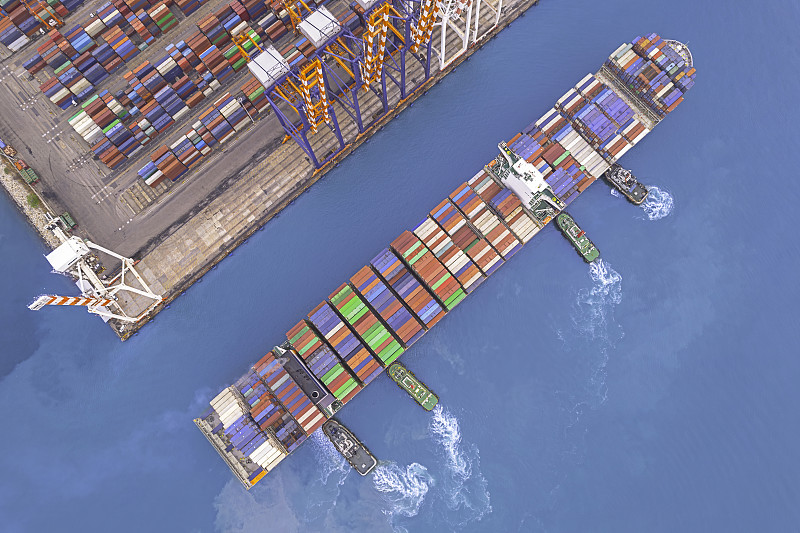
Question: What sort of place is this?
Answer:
port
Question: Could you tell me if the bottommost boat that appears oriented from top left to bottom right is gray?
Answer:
Yes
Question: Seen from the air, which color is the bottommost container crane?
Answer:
white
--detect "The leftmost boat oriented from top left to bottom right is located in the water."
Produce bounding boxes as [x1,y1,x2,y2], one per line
[323,418,380,479]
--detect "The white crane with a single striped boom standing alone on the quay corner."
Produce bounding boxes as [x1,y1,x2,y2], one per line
[34,218,174,324]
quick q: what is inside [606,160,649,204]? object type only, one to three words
boat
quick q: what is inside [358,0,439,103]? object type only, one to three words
container crane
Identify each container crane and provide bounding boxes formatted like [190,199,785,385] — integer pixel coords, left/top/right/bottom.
[230,27,354,173]
[439,0,505,45]
[407,0,474,73]
[34,218,174,324]
[280,0,396,137]
[358,0,439,103]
